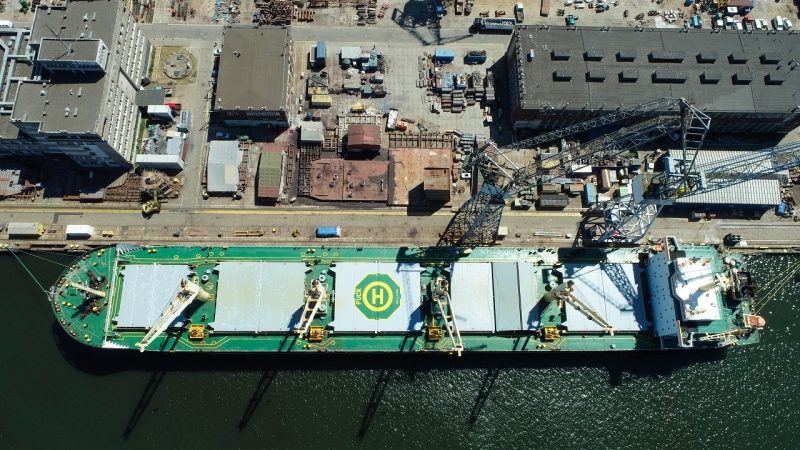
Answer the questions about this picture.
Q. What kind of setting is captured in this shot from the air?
port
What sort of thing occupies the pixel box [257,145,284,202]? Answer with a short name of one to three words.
shed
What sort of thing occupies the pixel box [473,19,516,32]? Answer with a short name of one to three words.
vehicle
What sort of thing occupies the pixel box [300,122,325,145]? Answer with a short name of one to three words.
shed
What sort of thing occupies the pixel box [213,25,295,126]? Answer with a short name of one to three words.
building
